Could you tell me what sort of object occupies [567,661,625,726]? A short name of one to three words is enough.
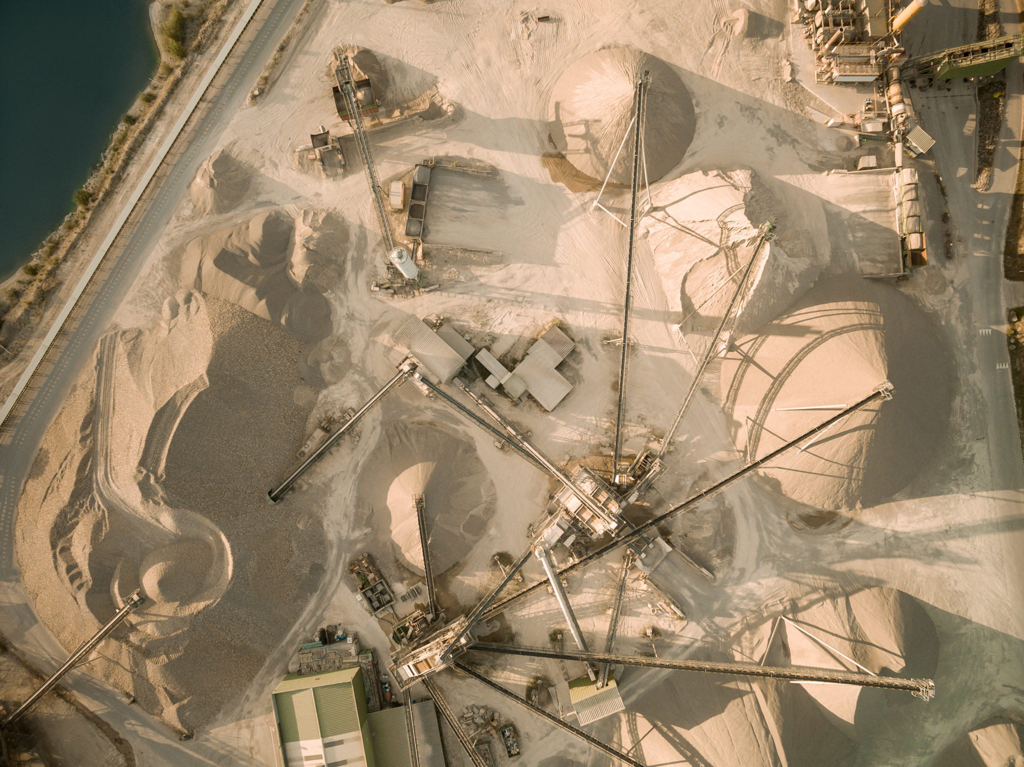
shed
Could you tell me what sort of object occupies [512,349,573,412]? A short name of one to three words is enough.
building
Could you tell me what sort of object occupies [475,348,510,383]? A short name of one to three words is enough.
shed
